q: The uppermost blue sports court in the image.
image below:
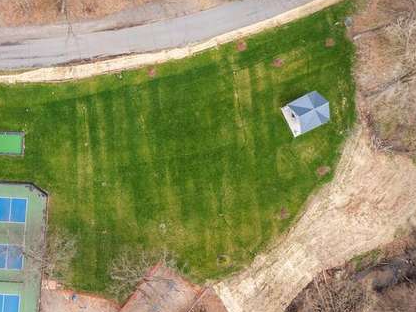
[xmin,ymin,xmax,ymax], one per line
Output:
[0,196,27,269]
